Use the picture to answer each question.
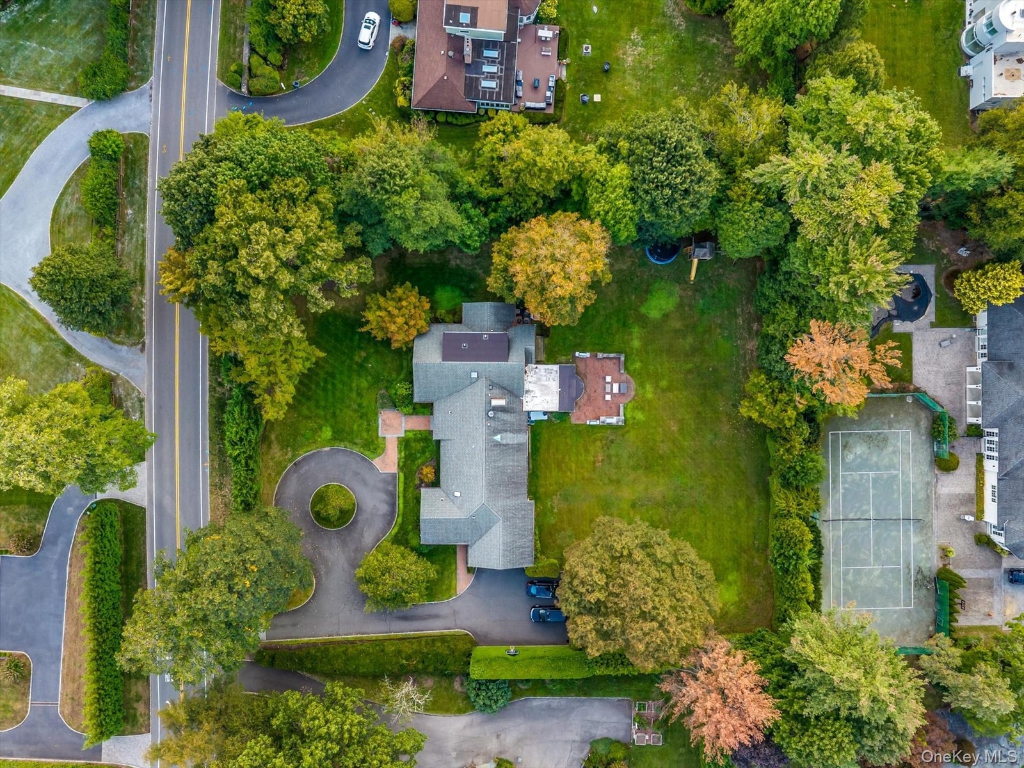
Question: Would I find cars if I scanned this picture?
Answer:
Yes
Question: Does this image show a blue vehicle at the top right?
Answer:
No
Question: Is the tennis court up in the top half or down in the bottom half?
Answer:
bottom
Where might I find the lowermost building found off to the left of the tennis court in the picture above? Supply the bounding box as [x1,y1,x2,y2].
[411,303,584,569]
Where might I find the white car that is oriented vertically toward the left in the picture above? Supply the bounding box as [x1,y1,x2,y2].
[359,12,380,51]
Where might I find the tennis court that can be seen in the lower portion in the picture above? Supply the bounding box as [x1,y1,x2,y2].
[820,395,935,647]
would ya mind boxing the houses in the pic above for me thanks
[411,303,584,569]
[411,0,540,117]
[966,295,1024,559]
[961,0,1024,110]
